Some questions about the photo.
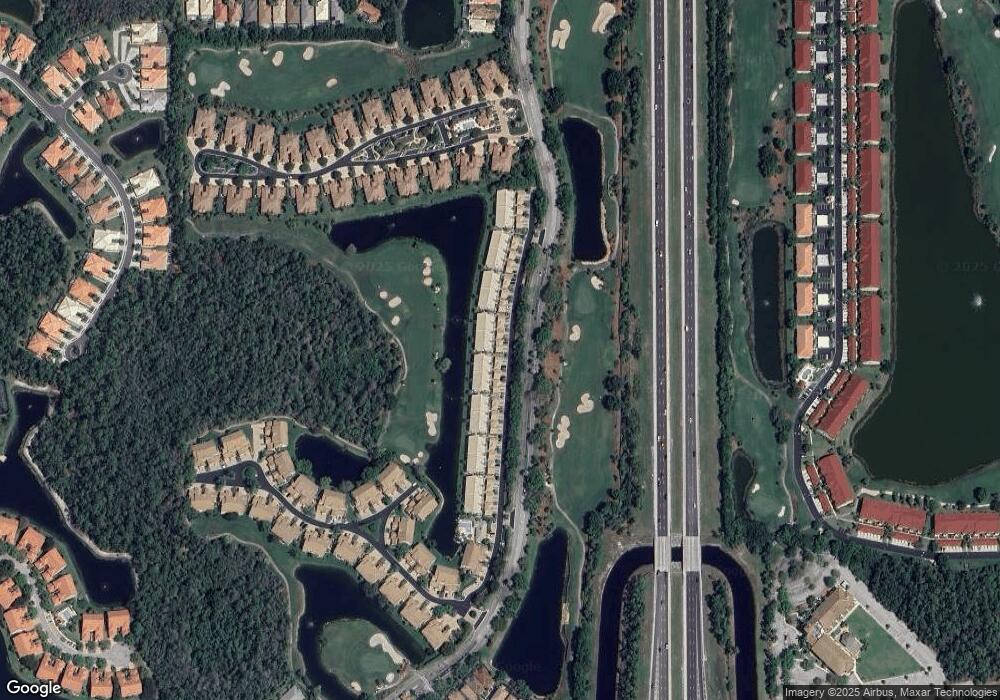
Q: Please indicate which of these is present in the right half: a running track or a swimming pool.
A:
swimming pool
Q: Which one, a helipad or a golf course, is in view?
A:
golf course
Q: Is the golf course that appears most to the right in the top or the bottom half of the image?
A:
top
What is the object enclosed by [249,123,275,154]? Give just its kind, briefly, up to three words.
house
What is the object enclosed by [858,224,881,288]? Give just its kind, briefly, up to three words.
building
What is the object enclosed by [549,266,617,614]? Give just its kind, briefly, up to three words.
golf course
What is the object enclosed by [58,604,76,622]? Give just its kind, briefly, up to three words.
swimming pool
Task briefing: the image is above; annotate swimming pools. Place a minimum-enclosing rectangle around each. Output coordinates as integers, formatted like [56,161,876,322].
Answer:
[796,363,816,385]
[58,604,76,622]
[459,517,473,537]
[454,117,478,131]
